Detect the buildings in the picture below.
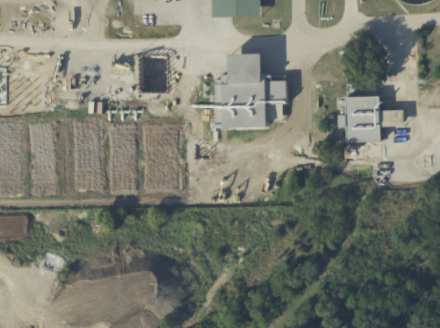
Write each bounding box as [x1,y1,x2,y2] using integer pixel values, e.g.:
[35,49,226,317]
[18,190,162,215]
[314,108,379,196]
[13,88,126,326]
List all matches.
[214,54,287,130]
[44,253,66,272]
[338,97,404,142]
[212,0,260,18]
